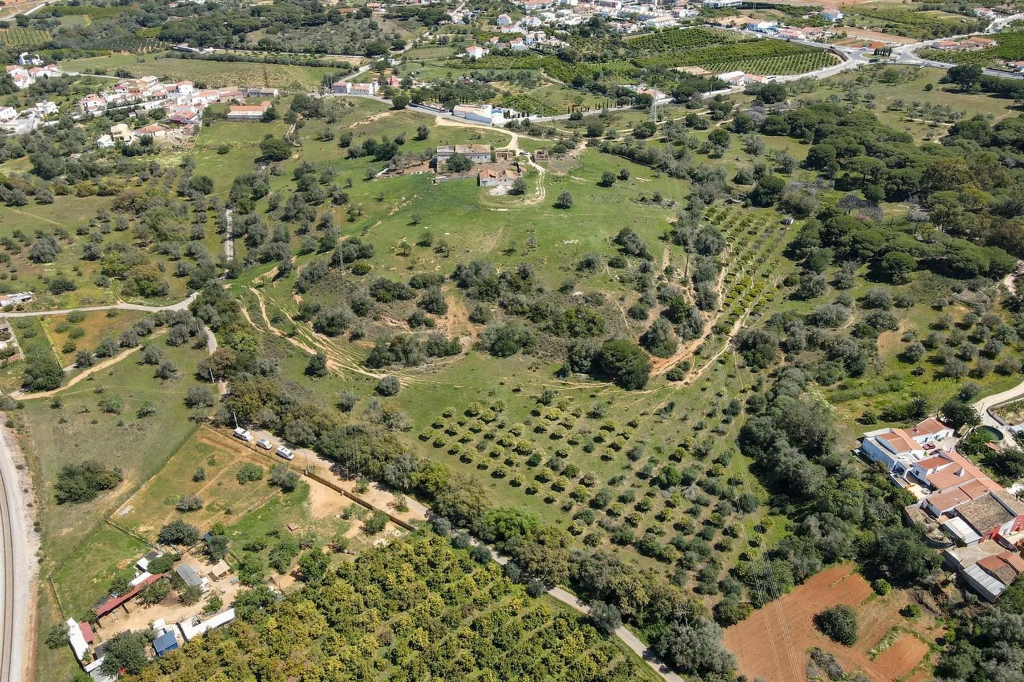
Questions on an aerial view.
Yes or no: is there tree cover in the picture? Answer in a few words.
Yes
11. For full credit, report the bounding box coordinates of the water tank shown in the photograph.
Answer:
[975,420,1007,442]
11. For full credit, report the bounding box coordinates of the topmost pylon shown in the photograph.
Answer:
[650,82,663,121]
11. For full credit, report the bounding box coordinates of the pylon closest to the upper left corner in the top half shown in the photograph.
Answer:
[328,222,345,276]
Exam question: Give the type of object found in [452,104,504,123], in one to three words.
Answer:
house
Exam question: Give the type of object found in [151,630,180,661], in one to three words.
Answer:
shed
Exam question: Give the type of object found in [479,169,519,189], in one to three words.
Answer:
house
